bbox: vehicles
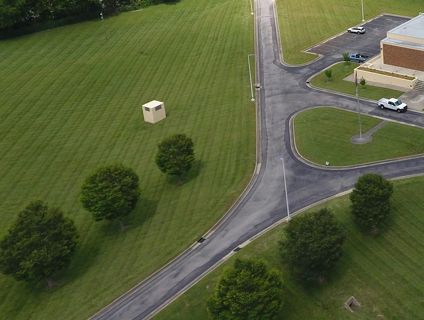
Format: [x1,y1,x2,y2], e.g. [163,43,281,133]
[348,50,373,63]
[377,97,411,113]
[349,25,370,34]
